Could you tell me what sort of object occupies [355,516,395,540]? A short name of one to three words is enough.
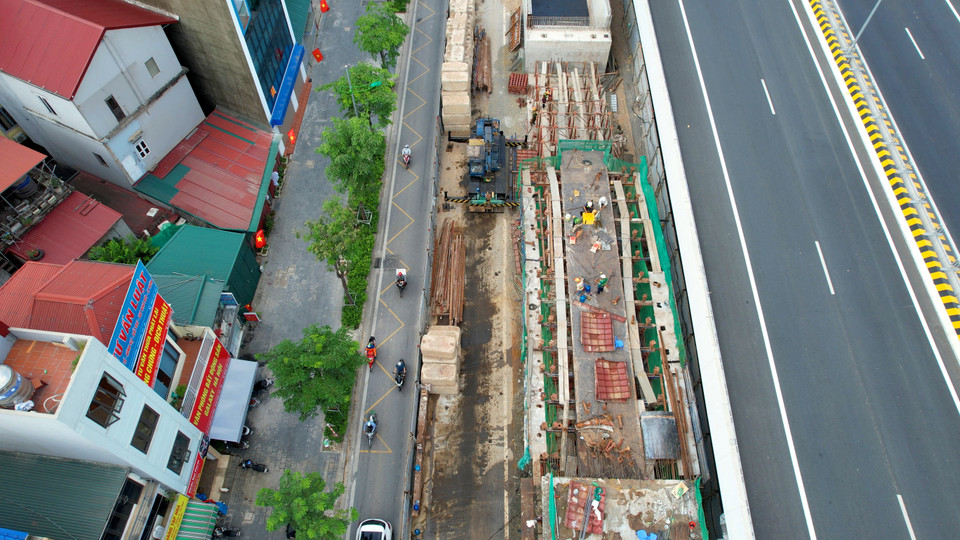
car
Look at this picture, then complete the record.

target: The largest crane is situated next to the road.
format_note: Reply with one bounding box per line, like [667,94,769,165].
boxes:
[442,114,528,218]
